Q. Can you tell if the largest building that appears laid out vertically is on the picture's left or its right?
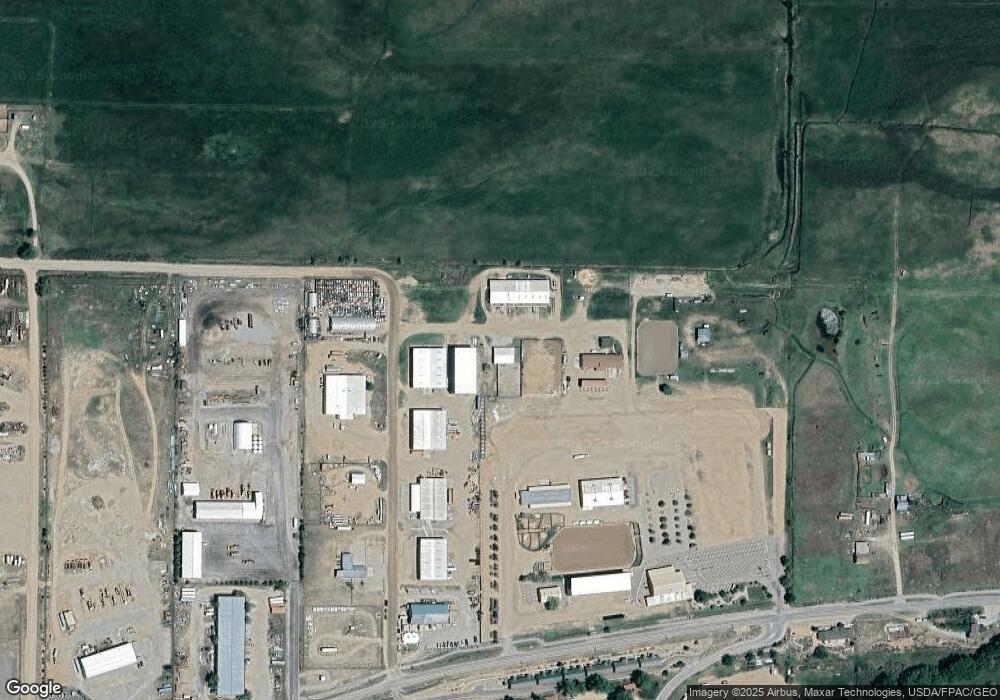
left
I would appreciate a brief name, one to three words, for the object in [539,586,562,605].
house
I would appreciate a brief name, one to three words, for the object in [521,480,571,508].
barn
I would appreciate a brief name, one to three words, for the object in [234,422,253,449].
shed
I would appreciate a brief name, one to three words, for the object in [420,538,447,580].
building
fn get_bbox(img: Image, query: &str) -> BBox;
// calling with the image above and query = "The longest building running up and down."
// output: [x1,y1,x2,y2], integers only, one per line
[217,597,245,695]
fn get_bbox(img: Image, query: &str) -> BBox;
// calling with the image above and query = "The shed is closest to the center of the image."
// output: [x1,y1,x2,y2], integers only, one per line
[494,348,515,363]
